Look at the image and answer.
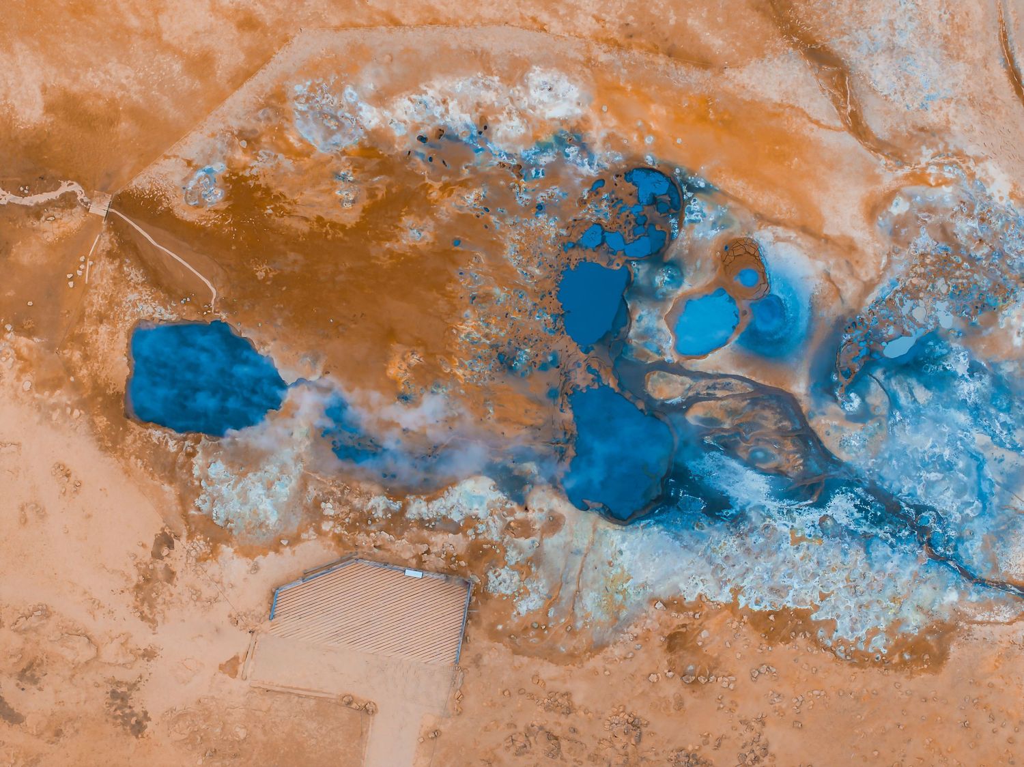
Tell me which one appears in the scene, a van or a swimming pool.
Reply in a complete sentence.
Looking from above, you can make out a swimming pool.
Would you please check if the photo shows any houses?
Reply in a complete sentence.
No, no house is visible in the scene.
